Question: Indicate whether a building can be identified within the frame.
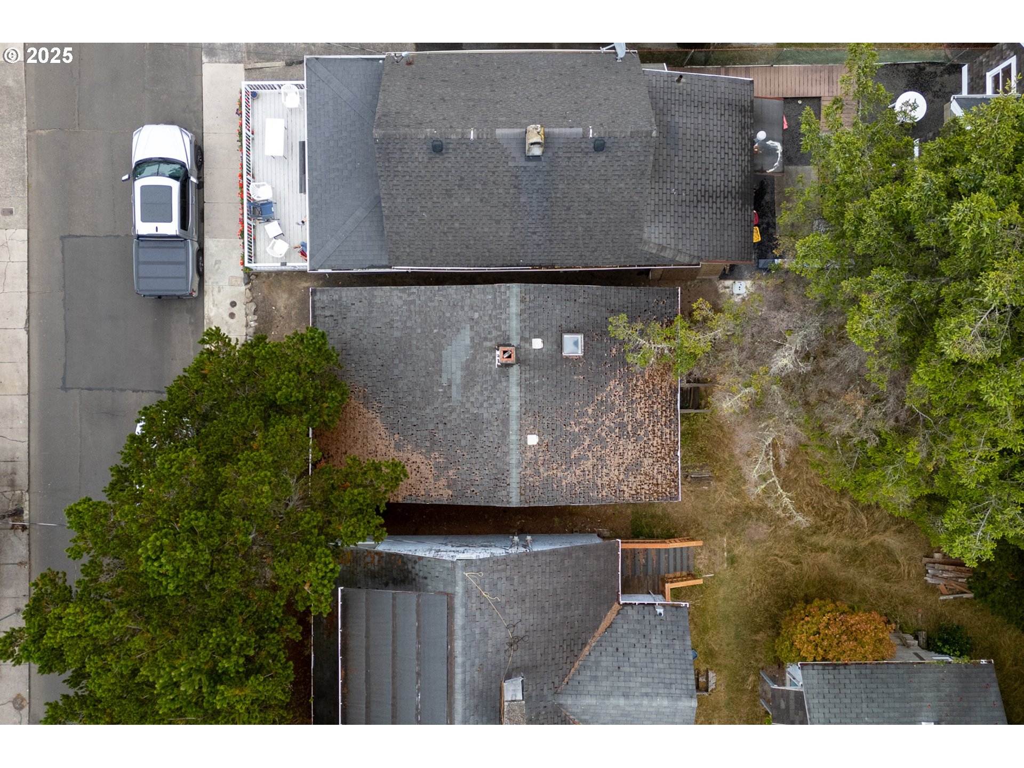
Yes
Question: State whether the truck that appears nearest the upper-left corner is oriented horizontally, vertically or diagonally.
vertically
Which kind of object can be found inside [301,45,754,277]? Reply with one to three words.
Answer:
house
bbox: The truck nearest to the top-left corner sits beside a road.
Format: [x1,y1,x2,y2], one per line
[123,124,205,302]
